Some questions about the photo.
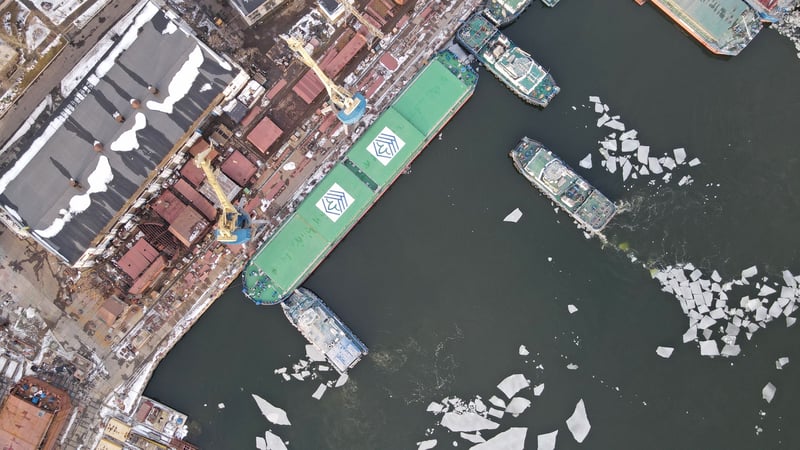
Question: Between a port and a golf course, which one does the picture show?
port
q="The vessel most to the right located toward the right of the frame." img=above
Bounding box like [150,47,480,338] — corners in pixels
[743,0,791,25]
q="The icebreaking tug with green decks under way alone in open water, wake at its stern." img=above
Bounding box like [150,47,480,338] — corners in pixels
[509,138,614,229]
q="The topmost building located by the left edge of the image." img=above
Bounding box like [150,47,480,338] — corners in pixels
[0,0,250,264]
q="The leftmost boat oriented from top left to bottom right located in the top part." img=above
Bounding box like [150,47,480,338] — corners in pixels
[455,11,559,106]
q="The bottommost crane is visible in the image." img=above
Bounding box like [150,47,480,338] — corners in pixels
[195,148,266,251]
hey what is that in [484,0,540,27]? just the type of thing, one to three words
boat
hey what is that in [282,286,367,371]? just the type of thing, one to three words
boat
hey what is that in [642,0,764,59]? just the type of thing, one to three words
ship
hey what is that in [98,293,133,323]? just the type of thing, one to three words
shed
